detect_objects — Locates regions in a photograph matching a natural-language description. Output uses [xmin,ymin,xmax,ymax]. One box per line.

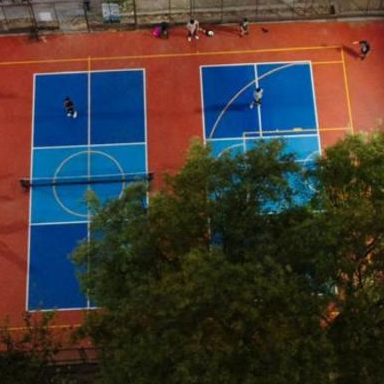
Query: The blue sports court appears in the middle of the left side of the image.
[26,68,150,311]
